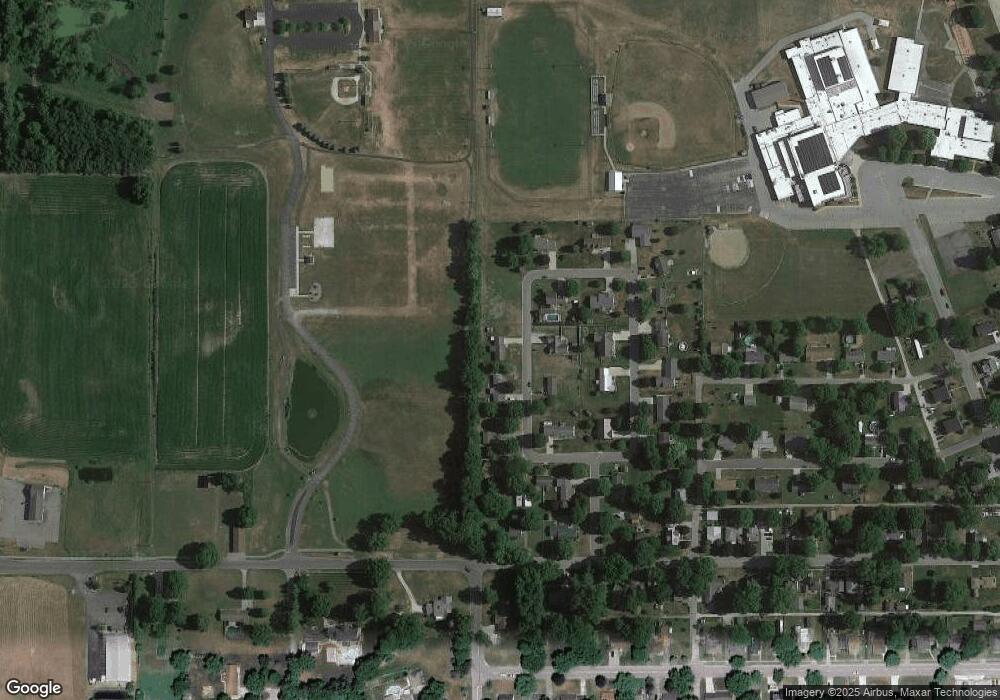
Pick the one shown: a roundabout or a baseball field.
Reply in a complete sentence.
It is a baseball field that can be seen here.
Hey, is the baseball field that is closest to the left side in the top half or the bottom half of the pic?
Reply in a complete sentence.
The top half of the photo is where the baseball field that is closest to the left side is.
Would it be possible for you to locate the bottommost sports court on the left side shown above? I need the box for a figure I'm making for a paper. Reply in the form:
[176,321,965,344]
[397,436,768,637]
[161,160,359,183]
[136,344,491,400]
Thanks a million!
[313,218,334,248]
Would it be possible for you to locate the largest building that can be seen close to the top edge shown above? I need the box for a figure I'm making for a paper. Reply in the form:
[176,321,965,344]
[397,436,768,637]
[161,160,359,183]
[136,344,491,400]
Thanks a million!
[757,28,994,206]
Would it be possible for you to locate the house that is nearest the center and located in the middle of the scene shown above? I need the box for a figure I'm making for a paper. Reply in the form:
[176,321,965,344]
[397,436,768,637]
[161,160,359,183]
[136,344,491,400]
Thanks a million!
[491,337,506,359]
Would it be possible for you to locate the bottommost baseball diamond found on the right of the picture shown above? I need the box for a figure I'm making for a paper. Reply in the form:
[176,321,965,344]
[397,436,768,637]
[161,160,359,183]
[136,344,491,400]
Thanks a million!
[704,228,790,306]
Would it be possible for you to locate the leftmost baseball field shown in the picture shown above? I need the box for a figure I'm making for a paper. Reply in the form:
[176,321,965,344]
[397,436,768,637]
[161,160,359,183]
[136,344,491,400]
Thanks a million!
[277,69,362,143]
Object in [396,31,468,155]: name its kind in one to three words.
sports field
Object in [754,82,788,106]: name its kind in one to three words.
shed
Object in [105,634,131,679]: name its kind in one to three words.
barn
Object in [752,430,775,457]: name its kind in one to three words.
house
